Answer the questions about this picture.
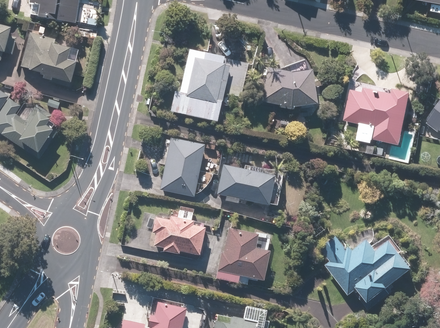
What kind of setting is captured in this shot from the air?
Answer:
residential area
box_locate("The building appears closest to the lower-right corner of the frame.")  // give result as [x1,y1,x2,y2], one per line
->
[324,236,410,304]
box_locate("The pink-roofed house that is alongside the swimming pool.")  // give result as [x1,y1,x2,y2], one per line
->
[343,86,408,146]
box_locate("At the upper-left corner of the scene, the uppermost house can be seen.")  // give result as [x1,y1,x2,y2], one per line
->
[30,0,80,24]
